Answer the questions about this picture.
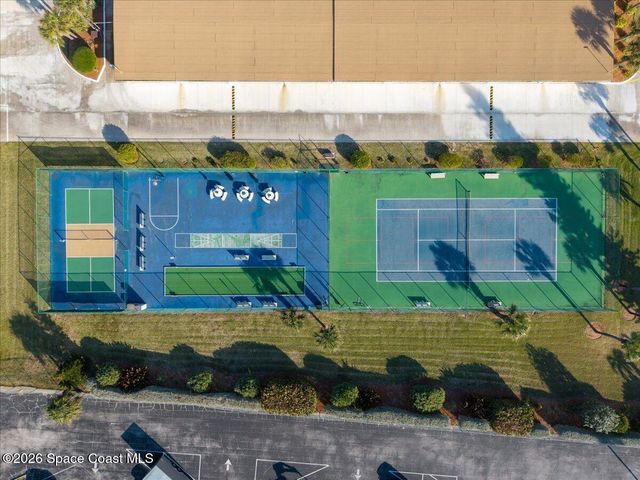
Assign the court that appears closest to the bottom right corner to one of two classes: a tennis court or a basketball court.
tennis court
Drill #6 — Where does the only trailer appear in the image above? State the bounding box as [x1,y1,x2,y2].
[144,456,191,480]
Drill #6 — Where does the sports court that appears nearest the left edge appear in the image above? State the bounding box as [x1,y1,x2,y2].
[66,188,114,292]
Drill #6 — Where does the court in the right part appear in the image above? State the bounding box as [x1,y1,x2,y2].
[329,171,605,309]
